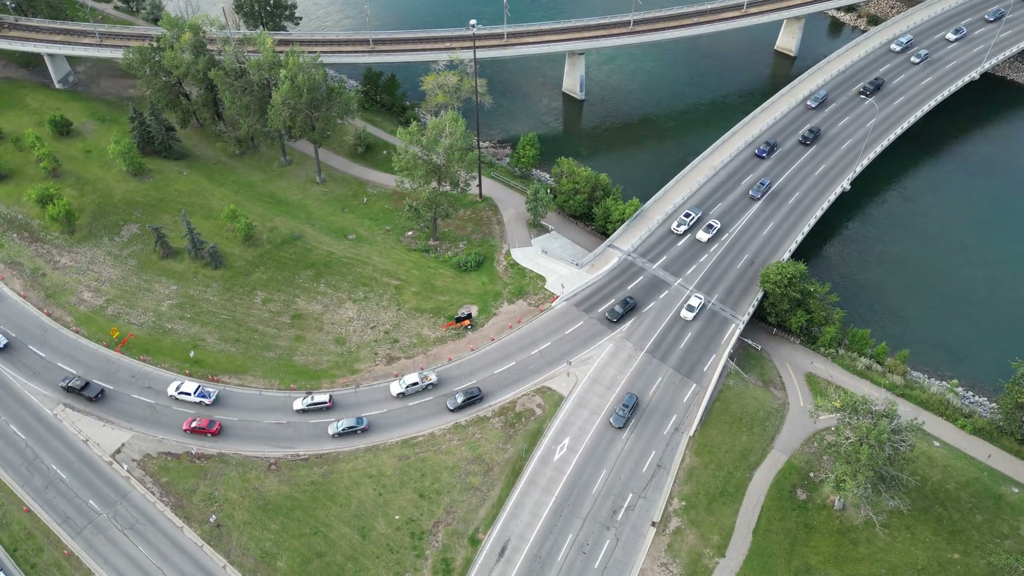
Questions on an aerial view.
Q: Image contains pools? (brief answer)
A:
No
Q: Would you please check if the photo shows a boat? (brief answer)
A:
No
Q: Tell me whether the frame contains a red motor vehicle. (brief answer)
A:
Yes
